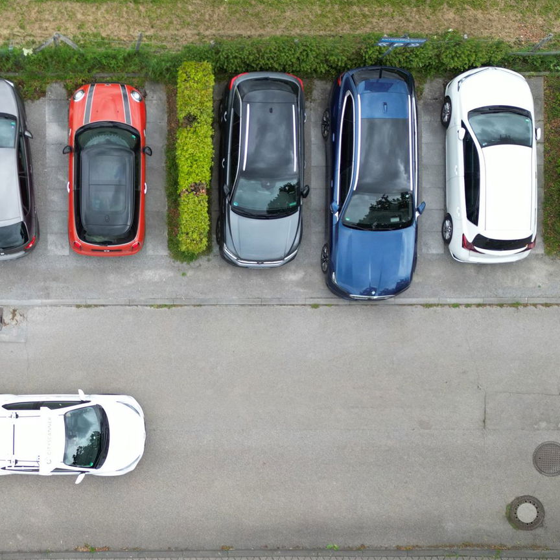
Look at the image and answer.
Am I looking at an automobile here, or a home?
automobile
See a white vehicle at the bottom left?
Yes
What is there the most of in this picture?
paved ground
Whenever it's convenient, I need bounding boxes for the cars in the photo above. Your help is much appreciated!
[0,387,146,484]
[0,77,42,261]
[443,67,548,264]
[323,70,430,300]
[60,83,155,258]
[217,74,316,269]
